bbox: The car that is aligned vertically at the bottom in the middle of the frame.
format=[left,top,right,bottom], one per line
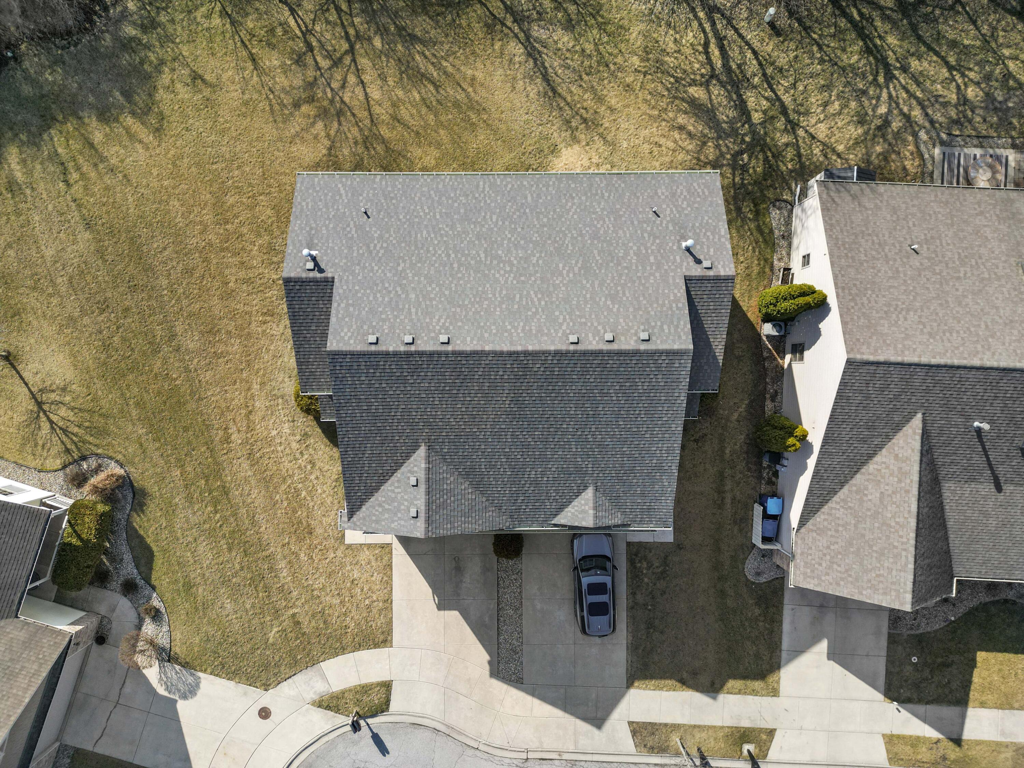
[568,534,621,639]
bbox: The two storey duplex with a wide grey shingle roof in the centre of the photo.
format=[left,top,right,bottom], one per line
[282,169,734,539]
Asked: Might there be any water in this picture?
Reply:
No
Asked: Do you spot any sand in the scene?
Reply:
No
